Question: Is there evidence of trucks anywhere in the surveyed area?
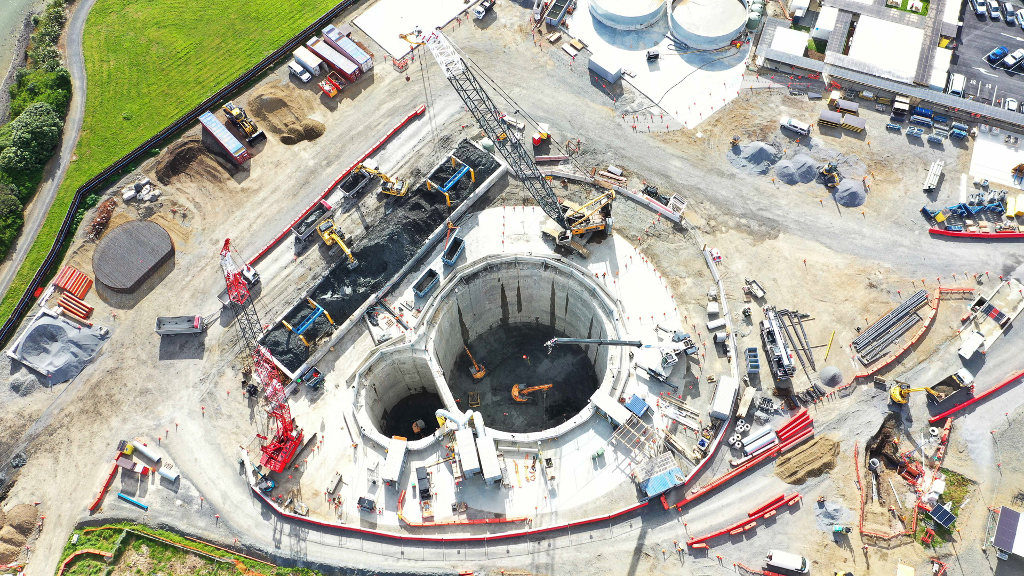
Yes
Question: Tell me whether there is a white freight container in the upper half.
Yes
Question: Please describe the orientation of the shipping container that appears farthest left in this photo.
on a diagonal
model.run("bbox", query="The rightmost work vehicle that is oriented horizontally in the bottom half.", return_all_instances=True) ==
[883,381,960,415]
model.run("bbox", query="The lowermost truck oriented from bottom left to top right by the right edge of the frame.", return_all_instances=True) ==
[926,370,981,417]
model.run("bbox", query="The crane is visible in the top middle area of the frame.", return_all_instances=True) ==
[392,30,617,262]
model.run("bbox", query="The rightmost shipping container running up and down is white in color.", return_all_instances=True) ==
[709,374,737,421]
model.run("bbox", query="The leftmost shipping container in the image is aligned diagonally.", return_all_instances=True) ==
[198,111,251,165]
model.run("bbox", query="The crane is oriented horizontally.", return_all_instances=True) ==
[542,327,698,394]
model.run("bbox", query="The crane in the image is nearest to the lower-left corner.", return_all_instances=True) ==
[216,232,324,481]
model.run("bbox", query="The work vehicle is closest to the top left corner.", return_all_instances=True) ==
[224,103,261,143]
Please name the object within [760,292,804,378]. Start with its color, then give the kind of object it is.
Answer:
white crane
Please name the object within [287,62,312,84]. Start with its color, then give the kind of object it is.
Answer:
white truck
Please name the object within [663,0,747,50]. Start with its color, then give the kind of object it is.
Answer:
white water tank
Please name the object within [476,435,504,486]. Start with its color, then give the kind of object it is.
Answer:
white shipping container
